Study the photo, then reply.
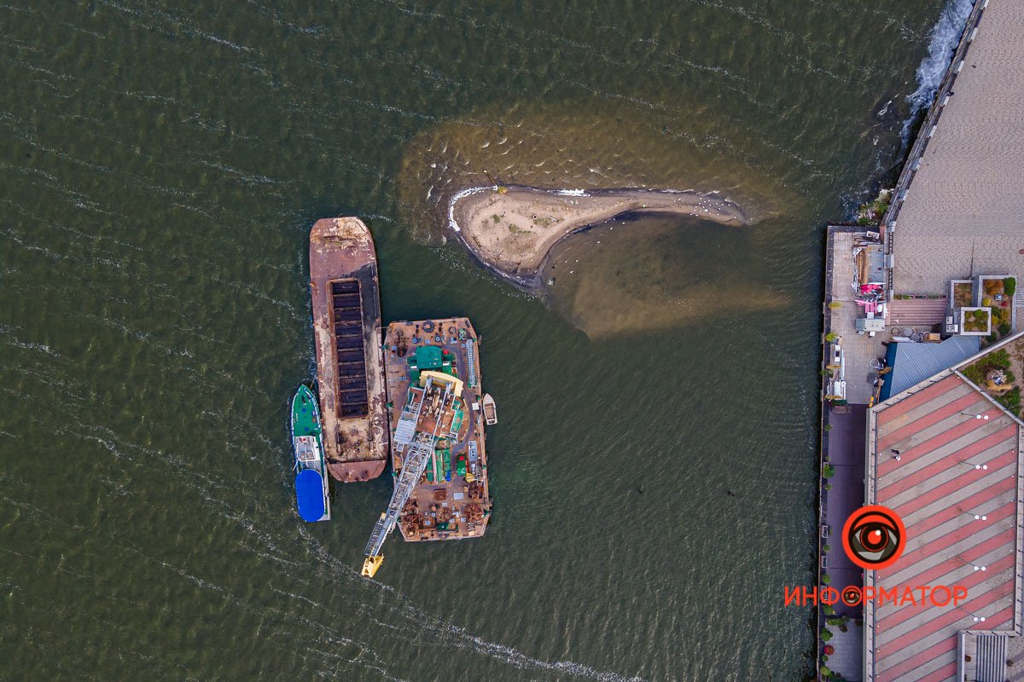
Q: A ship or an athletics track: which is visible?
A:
ship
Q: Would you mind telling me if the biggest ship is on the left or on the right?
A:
left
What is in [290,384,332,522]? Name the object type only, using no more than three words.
boat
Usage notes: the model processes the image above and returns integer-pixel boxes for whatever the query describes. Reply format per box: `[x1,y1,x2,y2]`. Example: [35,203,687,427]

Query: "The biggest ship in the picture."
[309,216,390,483]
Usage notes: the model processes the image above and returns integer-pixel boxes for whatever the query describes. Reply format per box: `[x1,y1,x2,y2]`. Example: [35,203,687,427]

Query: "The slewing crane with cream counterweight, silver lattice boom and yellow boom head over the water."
[362,377,470,577]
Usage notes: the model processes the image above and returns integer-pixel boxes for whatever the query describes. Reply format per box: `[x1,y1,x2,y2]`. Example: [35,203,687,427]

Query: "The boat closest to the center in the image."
[483,393,497,424]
